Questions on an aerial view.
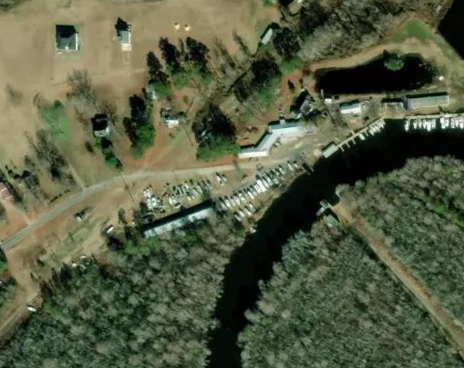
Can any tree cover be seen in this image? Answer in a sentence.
Yes, there is tree cover in the image.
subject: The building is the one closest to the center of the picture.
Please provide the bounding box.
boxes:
[238,147,269,161]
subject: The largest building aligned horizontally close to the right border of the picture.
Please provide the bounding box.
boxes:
[405,92,450,111]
